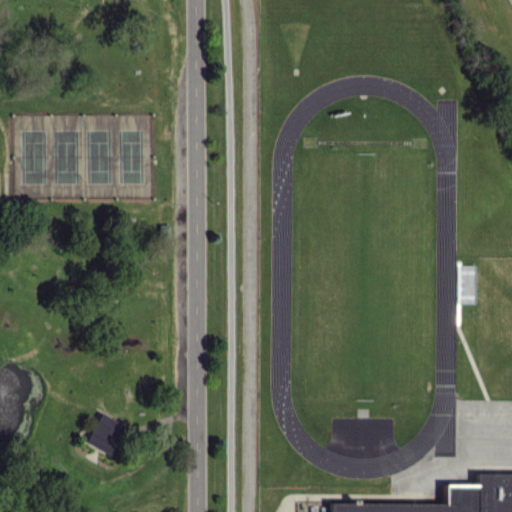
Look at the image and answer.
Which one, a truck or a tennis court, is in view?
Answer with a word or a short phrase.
tennis court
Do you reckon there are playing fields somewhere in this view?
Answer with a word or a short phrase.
Yes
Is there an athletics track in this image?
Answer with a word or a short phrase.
Yes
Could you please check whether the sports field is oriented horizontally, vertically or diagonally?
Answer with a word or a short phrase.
vertically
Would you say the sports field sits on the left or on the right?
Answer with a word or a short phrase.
right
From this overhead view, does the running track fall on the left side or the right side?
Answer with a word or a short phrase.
right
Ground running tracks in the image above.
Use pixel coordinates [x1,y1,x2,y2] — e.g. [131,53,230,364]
[270,76,458,479]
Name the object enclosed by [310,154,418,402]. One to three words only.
sports field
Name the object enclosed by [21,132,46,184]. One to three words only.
tennis court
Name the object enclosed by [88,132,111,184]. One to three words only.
tennis court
